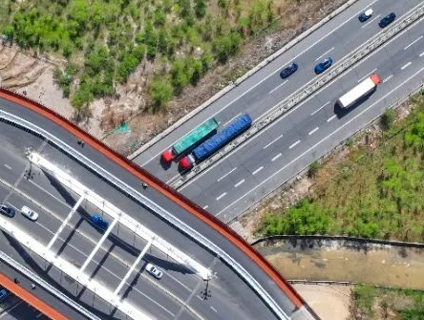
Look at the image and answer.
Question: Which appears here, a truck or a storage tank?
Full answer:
The image shows a truck.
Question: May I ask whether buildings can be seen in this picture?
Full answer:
No, I find no building anywhere in the image.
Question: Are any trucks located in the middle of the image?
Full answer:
Yes, a truck appears in the middle of the image.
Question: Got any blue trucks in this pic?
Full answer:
Yes, there is a blue truck in the image.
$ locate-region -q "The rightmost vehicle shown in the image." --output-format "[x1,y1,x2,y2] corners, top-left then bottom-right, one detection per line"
[379,10,397,26]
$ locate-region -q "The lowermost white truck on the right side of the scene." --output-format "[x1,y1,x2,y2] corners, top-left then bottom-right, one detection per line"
[335,69,385,107]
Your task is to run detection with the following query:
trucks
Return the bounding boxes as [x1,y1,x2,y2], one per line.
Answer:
[160,117,219,162]
[335,69,385,107]
[181,115,252,168]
